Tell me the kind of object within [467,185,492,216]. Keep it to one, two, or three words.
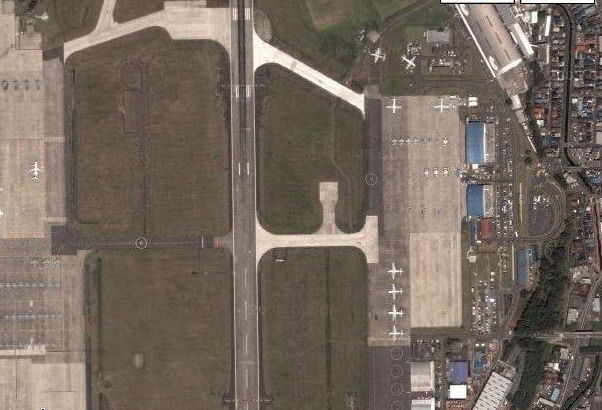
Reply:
hangar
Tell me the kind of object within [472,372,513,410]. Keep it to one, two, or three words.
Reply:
building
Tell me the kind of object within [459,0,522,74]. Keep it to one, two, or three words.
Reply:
building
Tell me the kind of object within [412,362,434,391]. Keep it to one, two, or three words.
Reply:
hangar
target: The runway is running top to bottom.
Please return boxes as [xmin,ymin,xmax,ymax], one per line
[221,0,271,410]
